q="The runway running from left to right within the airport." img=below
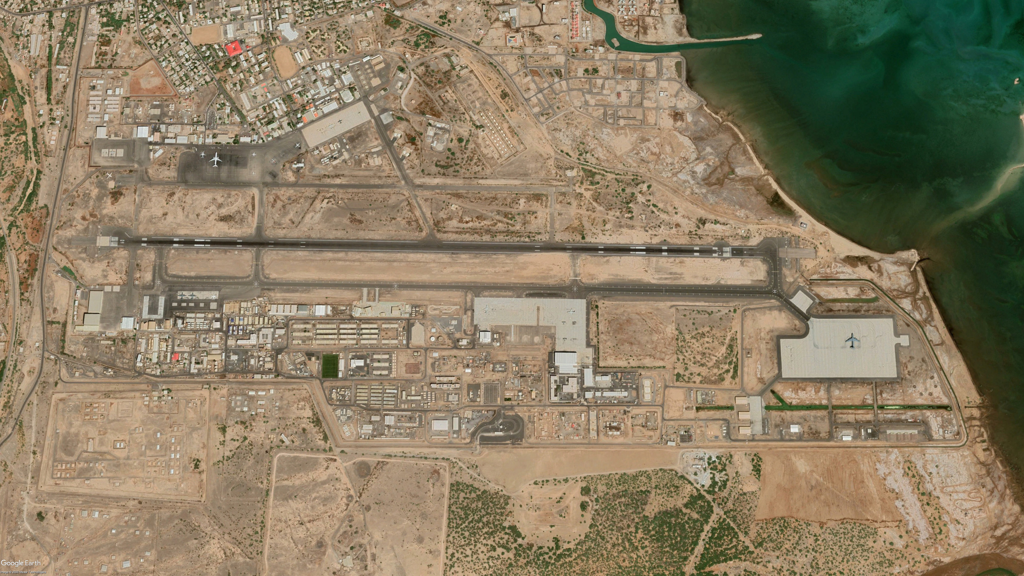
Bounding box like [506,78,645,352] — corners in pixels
[110,236,816,258]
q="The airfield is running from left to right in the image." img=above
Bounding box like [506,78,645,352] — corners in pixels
[71,65,910,381]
